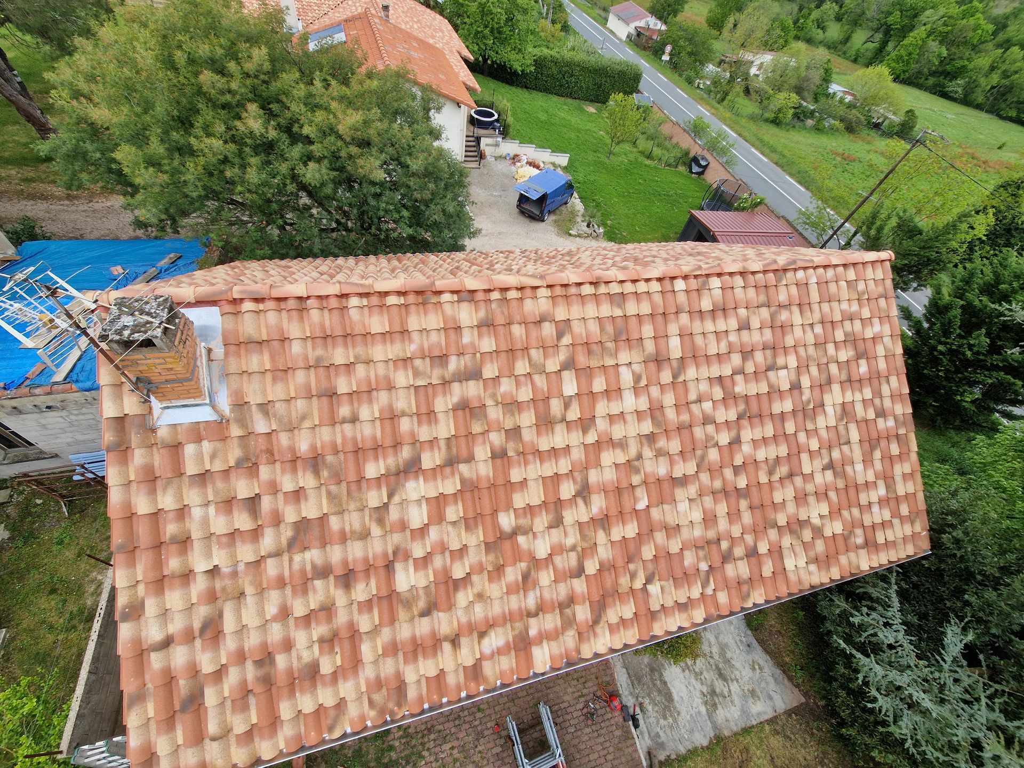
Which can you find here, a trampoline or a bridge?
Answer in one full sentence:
Looking from above, you can make out a trampoline.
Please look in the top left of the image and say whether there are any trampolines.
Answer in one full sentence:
No, in the top left of the image there is no trampoline.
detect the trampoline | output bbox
[704,169,758,212]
